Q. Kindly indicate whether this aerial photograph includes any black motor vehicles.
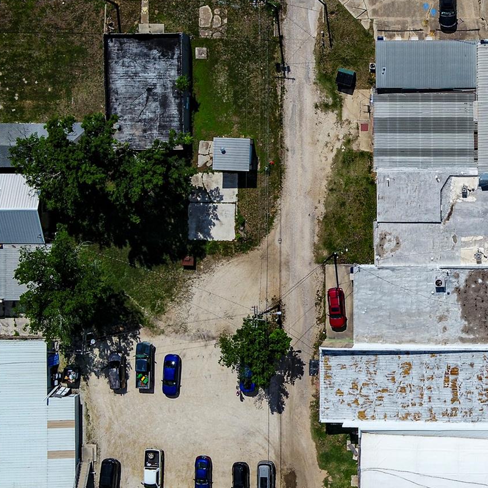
Yes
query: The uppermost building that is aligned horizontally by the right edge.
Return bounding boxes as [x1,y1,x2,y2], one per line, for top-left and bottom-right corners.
[375,40,477,90]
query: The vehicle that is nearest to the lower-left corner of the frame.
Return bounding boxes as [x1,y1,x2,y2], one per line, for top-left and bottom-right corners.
[99,457,119,488]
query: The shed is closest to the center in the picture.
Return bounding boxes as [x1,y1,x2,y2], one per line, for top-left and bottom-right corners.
[212,138,255,171]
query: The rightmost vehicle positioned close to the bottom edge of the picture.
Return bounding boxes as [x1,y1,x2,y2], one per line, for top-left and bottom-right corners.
[258,458,276,488]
